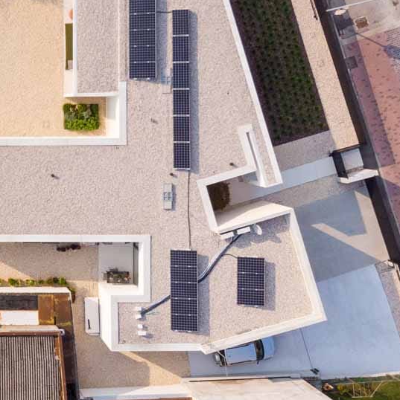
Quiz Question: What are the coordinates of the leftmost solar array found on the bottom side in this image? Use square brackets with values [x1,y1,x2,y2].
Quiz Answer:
[171,248,198,332]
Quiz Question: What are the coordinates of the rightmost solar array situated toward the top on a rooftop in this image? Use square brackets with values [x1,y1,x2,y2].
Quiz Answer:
[173,9,189,171]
